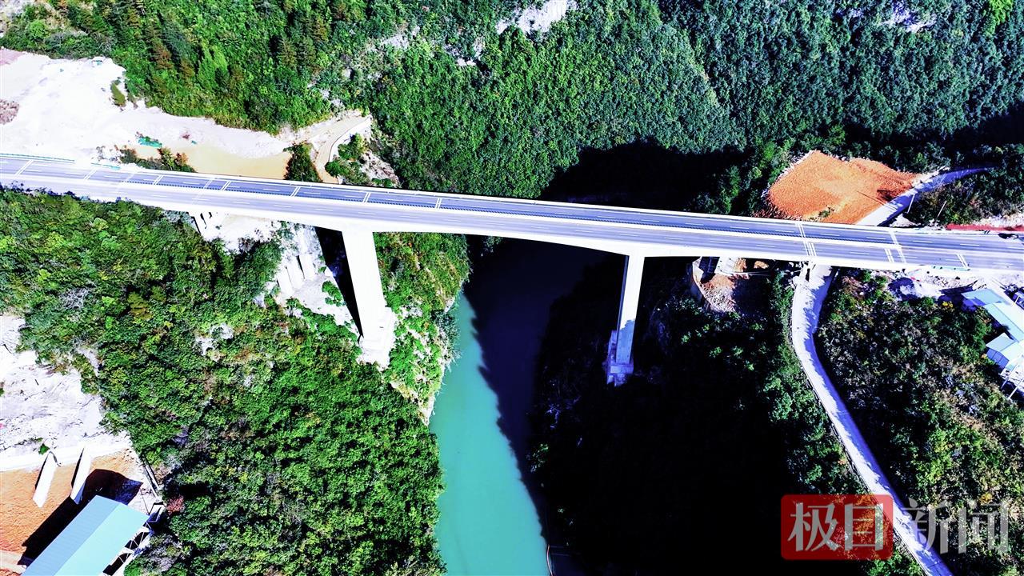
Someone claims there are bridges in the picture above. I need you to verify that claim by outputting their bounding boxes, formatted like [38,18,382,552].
[184,173,910,392]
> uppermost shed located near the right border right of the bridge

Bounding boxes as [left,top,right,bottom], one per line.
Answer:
[954,289,1004,319]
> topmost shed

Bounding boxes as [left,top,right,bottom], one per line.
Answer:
[711,259,735,296]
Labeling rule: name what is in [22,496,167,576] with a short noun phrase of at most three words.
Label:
building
